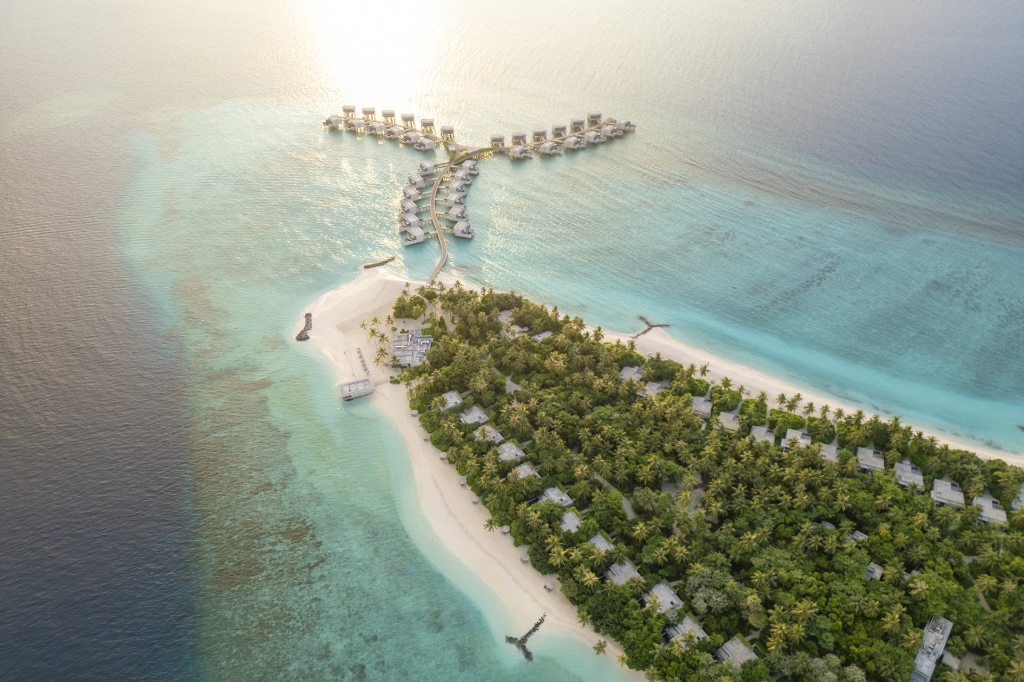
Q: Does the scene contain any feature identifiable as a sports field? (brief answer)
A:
No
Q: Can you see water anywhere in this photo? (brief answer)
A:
Yes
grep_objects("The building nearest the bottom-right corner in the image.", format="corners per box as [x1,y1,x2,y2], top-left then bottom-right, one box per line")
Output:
[894,616,953,682]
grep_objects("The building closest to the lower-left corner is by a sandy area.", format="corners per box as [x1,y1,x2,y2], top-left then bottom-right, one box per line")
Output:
[340,379,378,405]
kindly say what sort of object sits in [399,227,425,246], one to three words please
house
